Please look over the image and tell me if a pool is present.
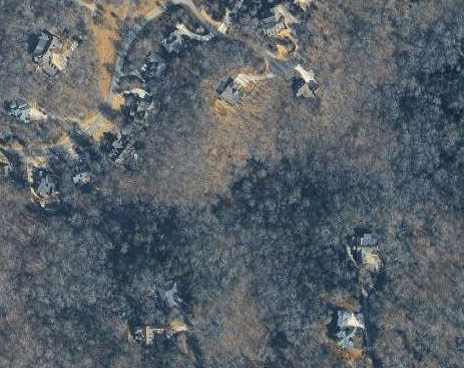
No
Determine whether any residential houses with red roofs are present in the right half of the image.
No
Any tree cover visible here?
Yes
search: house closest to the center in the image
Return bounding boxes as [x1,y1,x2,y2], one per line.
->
[218,80,248,105]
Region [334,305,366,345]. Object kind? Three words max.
house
